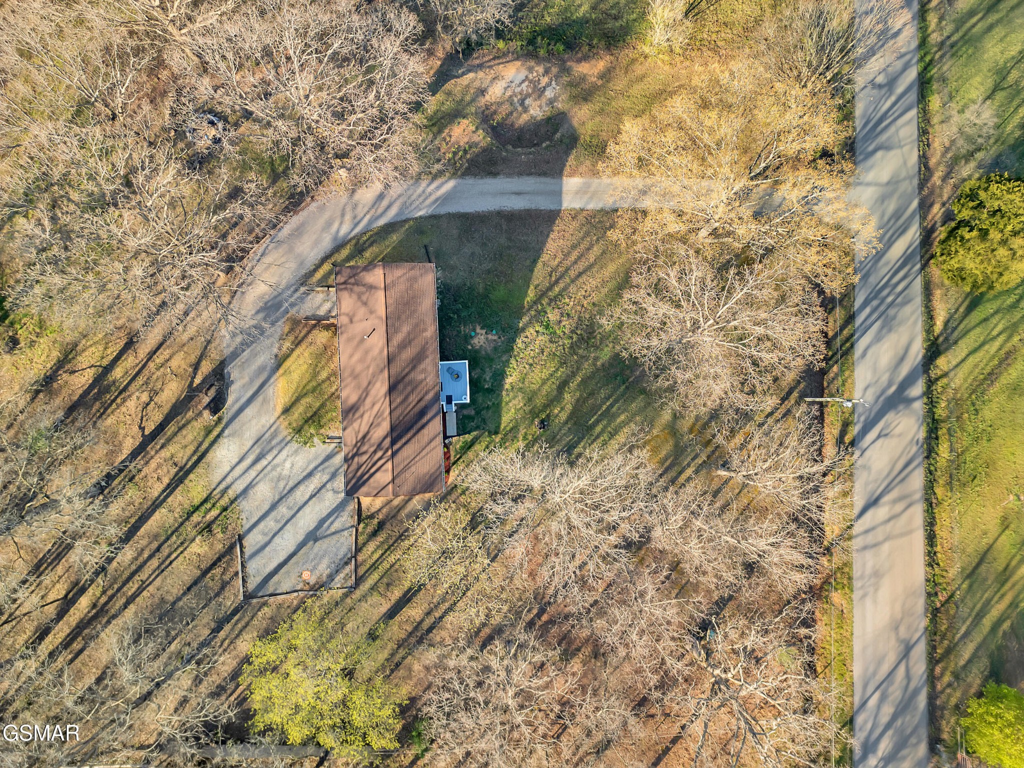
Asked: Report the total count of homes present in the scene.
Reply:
1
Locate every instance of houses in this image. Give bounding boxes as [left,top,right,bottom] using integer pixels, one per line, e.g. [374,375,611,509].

[333,262,446,497]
